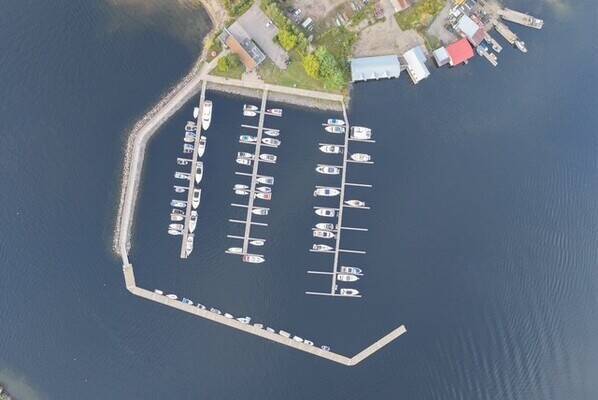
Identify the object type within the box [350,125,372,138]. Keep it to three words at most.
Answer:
boat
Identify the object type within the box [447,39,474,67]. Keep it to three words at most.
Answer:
building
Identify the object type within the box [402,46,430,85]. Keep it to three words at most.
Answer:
building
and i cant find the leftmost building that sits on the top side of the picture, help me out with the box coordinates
[219,30,266,71]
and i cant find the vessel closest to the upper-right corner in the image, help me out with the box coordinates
[533,16,545,29]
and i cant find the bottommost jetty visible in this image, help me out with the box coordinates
[121,249,408,367]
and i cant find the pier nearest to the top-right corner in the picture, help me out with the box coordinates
[502,8,534,27]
